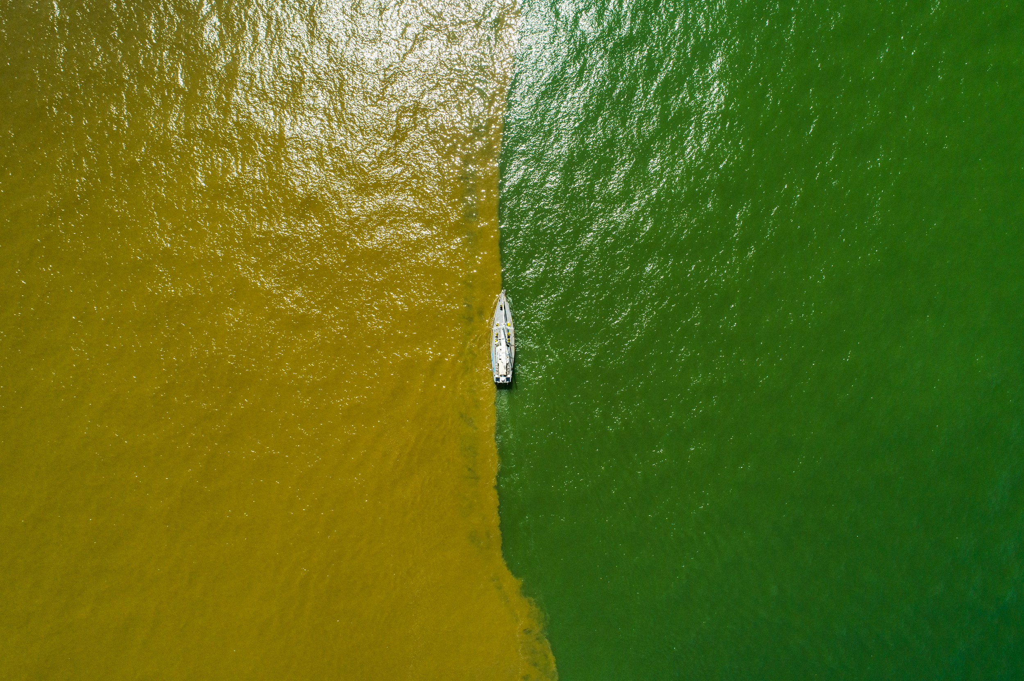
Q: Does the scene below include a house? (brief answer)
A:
No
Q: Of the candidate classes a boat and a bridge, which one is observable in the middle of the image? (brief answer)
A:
boat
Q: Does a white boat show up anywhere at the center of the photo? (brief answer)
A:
Yes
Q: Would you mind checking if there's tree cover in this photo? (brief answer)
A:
No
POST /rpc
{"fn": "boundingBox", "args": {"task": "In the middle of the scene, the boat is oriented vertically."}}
[490,289,515,385]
